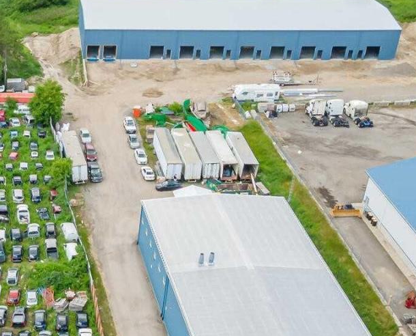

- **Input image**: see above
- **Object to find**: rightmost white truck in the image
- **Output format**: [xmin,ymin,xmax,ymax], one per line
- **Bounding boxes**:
[349,97,379,127]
